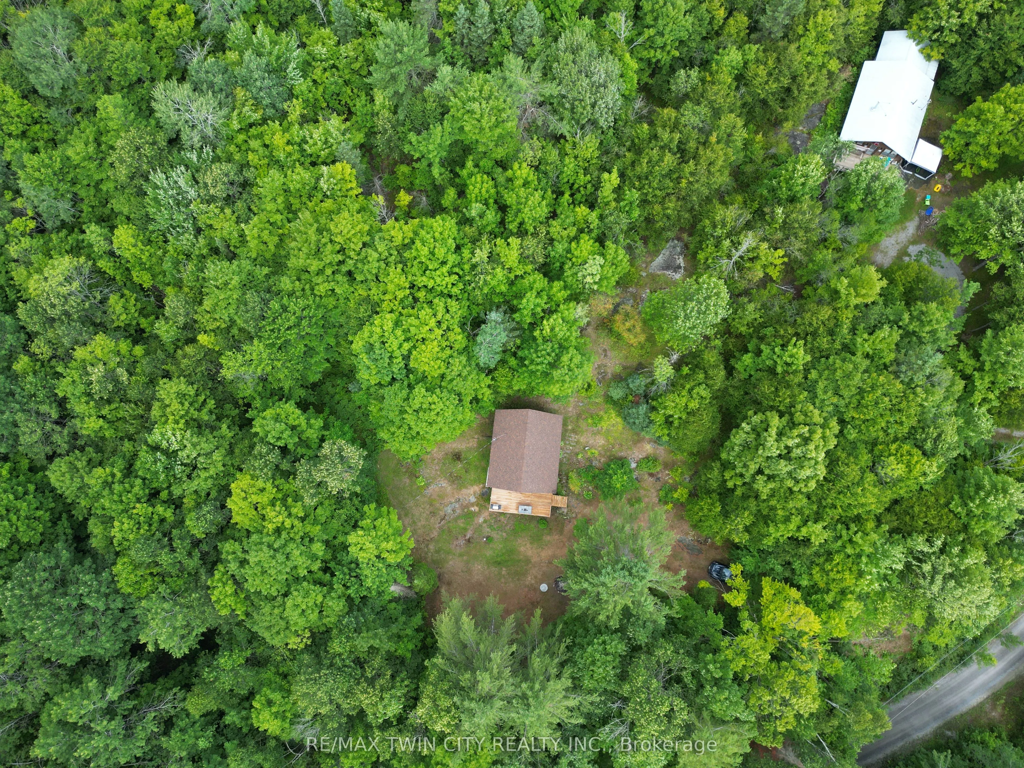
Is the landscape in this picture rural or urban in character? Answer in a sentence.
From above, the setting appears rural.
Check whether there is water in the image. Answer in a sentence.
No, no water is visible.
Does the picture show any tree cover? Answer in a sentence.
Yes, there is tree cover in the image.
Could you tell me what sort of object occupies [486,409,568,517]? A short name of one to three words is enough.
building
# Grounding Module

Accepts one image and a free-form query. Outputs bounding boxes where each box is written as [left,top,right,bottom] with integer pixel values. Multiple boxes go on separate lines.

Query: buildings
[486,409,568,517]
[830,30,945,185]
